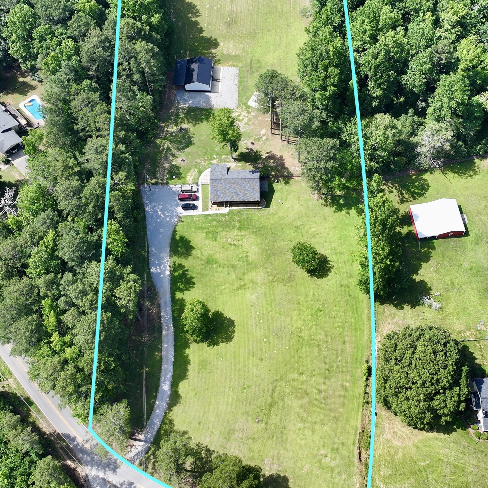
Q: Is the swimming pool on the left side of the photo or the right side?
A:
left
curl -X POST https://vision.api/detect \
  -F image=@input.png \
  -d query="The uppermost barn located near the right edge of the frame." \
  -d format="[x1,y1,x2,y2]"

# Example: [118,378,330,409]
[408,199,466,245]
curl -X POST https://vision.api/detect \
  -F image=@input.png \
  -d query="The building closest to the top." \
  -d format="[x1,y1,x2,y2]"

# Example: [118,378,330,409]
[172,56,212,91]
